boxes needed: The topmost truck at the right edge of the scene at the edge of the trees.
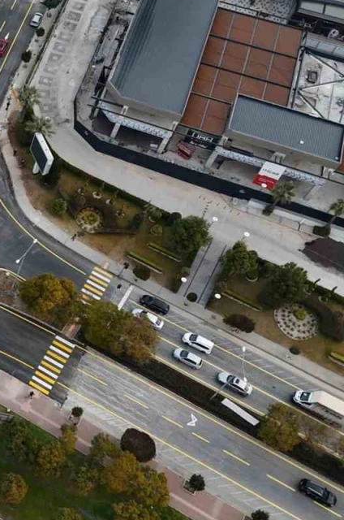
[294,375,344,424]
